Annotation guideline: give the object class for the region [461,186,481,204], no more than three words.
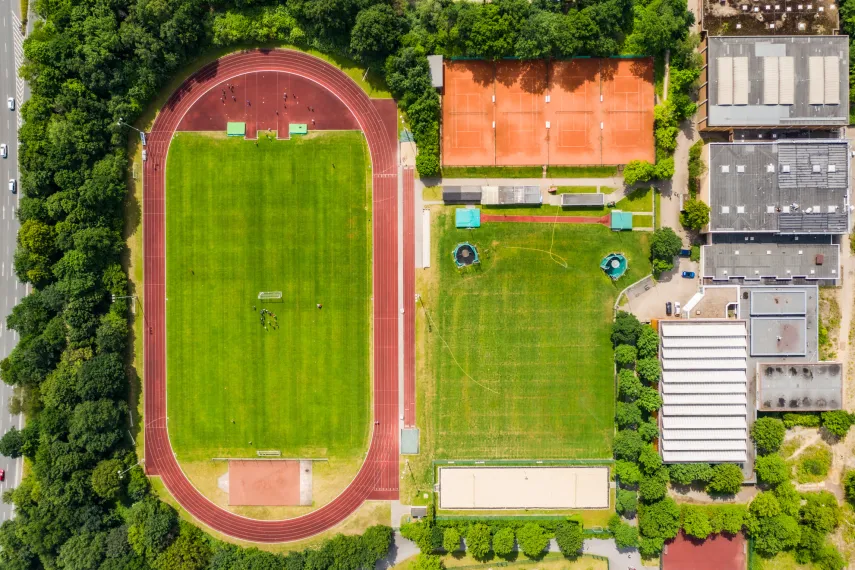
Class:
shed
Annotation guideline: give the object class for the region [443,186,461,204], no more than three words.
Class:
shed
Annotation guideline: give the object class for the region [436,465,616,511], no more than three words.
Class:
sports court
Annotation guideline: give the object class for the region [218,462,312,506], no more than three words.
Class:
sports court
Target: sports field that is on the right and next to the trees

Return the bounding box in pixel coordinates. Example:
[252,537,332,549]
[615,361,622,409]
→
[430,224,616,460]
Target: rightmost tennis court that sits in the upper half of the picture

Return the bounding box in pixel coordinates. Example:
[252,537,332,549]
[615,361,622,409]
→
[601,59,655,165]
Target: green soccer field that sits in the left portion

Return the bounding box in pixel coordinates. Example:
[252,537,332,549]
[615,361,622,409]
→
[166,131,372,520]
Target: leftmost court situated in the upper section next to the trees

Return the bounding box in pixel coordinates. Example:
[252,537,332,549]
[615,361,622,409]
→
[443,59,495,165]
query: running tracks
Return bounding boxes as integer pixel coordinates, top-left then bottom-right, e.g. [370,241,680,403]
[144,48,399,542]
